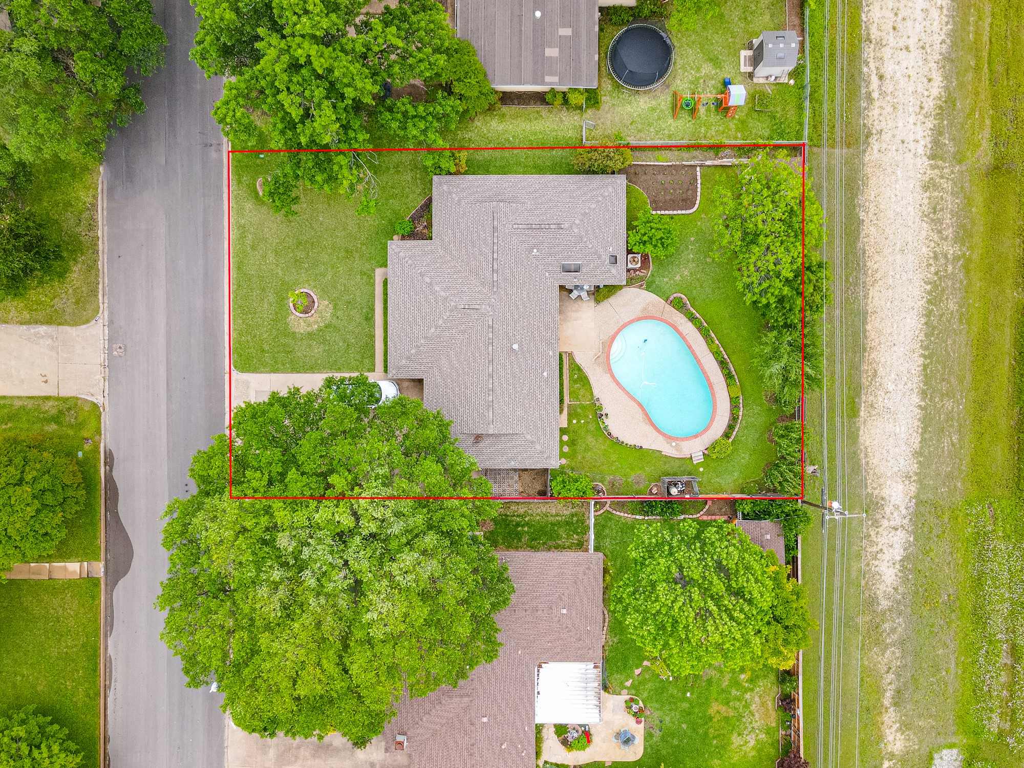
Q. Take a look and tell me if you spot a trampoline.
Yes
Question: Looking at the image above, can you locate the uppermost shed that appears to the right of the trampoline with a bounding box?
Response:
[753,31,803,77]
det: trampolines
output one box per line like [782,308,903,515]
[607,18,674,94]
